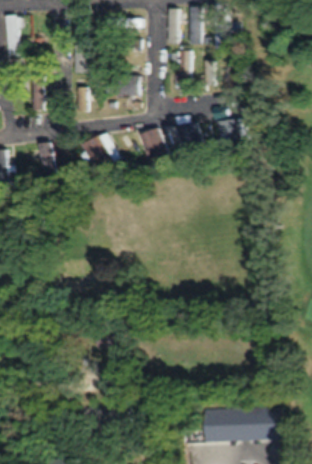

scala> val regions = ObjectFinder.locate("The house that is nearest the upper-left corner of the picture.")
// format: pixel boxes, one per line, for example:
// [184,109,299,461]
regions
[4,14,24,50]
